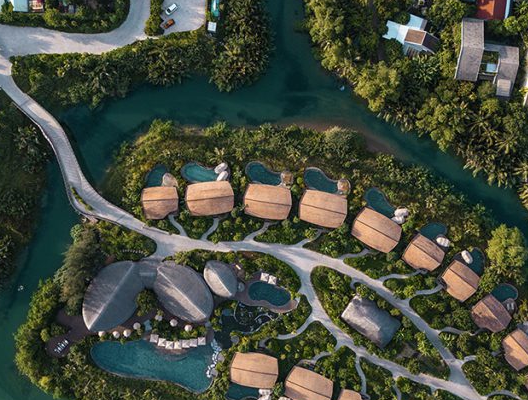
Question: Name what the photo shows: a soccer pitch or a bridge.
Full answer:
I can see a bridge in this picture.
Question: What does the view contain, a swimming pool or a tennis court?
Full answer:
There is a swimming pool in the scene.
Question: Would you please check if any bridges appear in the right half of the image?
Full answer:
No, in the right half of the image there is no bridge.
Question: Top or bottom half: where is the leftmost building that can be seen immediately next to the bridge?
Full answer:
The leftmost building that can be seen immediately next to the bridge is in the bottom half of the image.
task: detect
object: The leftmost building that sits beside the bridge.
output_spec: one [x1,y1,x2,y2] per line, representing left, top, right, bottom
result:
[82,261,141,332]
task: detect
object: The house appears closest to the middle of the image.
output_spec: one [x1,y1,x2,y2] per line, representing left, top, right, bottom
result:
[244,185,292,220]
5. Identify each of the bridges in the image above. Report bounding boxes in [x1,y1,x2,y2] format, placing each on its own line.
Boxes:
[28,103,166,250]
